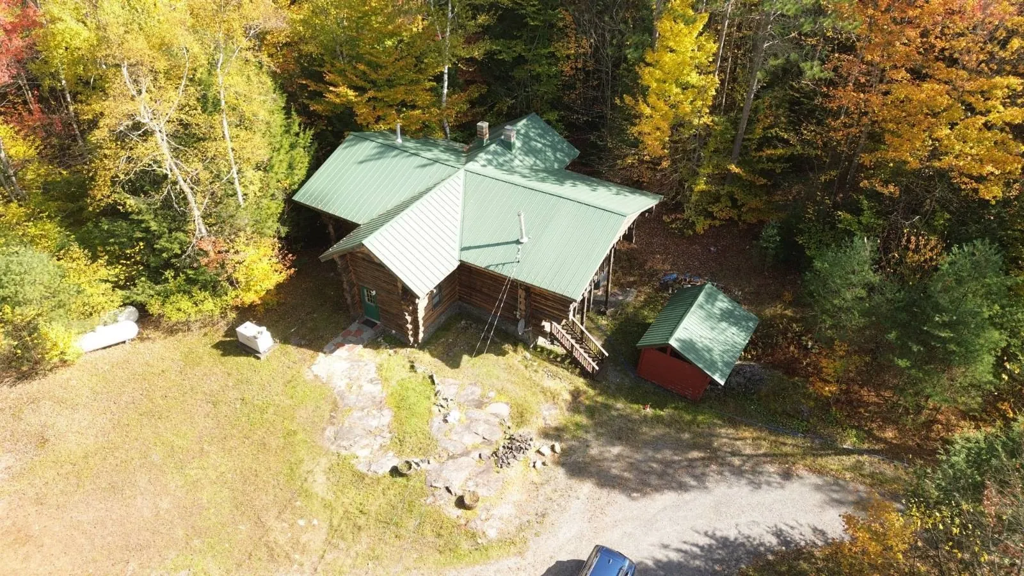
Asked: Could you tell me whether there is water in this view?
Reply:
No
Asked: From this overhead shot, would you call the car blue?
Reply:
Yes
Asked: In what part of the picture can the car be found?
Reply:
bottom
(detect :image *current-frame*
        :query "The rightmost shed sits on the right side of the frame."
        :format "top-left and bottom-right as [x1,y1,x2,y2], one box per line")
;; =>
[631,282,754,402]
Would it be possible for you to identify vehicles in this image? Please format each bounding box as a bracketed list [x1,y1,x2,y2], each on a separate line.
[578,543,636,576]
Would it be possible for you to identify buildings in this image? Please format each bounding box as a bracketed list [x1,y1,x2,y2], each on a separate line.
[631,282,754,402]
[289,115,662,357]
